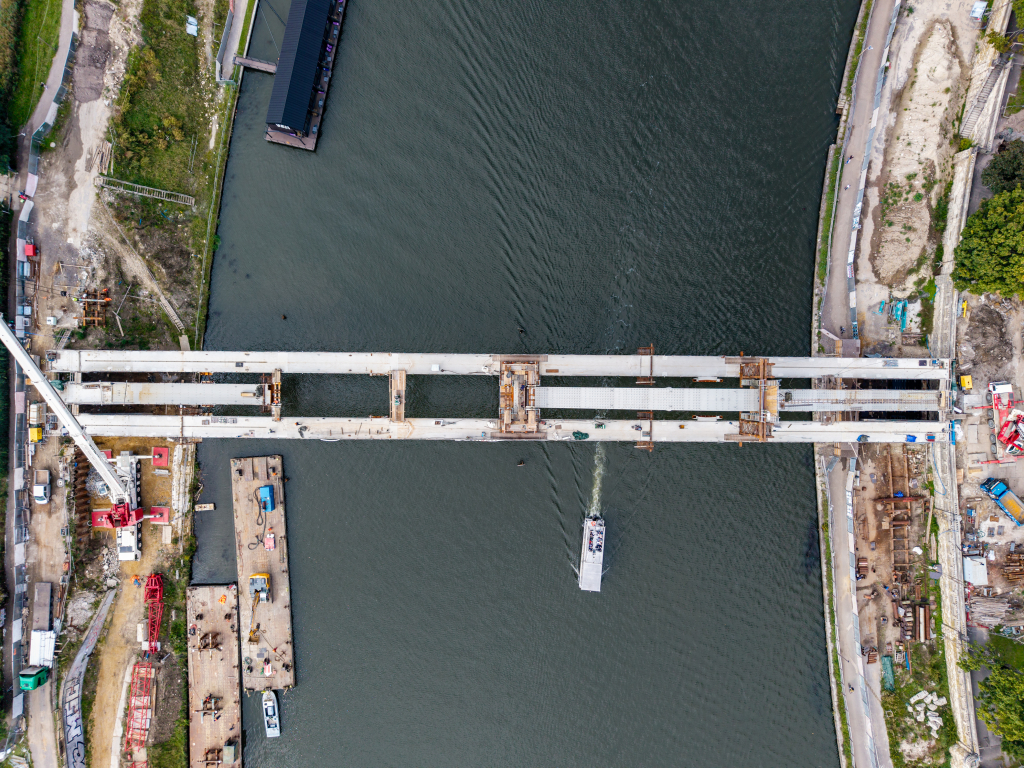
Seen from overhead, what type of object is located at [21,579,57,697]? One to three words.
truck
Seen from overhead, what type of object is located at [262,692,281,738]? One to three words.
boat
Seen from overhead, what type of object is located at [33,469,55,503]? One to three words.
truck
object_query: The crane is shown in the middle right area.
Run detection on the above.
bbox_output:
[963,373,1024,462]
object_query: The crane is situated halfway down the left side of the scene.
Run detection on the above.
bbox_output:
[0,309,172,562]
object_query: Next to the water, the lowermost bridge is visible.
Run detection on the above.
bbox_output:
[48,350,948,443]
